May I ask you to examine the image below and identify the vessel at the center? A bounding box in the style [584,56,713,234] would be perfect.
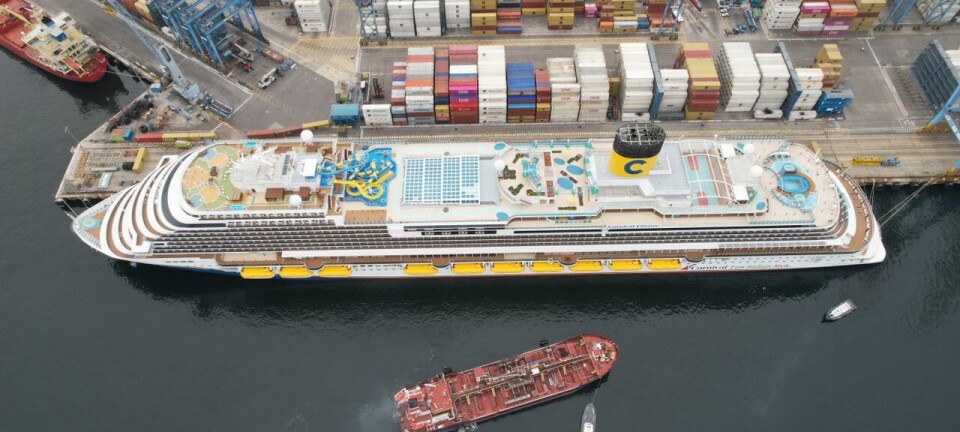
[69,120,894,279]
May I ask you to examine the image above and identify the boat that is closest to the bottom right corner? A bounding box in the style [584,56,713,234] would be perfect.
[824,300,858,320]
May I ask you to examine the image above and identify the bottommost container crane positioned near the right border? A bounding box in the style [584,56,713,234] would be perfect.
[913,87,960,140]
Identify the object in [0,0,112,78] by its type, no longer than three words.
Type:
ship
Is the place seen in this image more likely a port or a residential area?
port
